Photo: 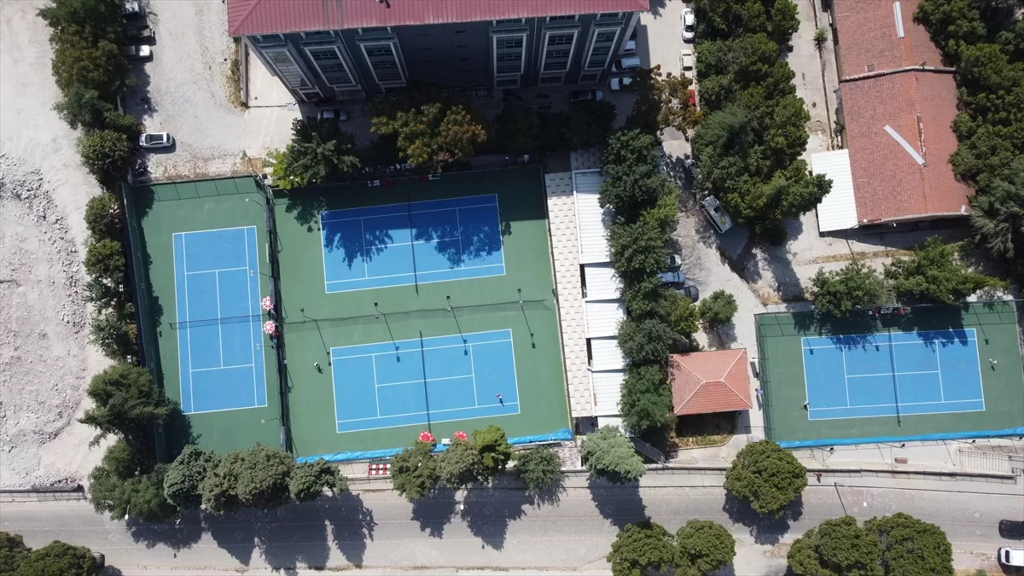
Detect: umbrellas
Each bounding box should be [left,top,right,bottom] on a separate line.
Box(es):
[262,297,275,309]
[265,321,278,333]
[454,429,468,438]
[419,430,434,445]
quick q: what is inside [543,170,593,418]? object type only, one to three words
building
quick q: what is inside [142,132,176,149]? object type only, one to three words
car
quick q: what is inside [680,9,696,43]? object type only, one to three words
car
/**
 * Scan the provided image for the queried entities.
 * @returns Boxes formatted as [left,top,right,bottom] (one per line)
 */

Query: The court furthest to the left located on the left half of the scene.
[134,177,292,464]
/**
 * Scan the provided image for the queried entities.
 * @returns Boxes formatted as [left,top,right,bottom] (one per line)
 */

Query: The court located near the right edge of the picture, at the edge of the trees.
[755,301,1024,443]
